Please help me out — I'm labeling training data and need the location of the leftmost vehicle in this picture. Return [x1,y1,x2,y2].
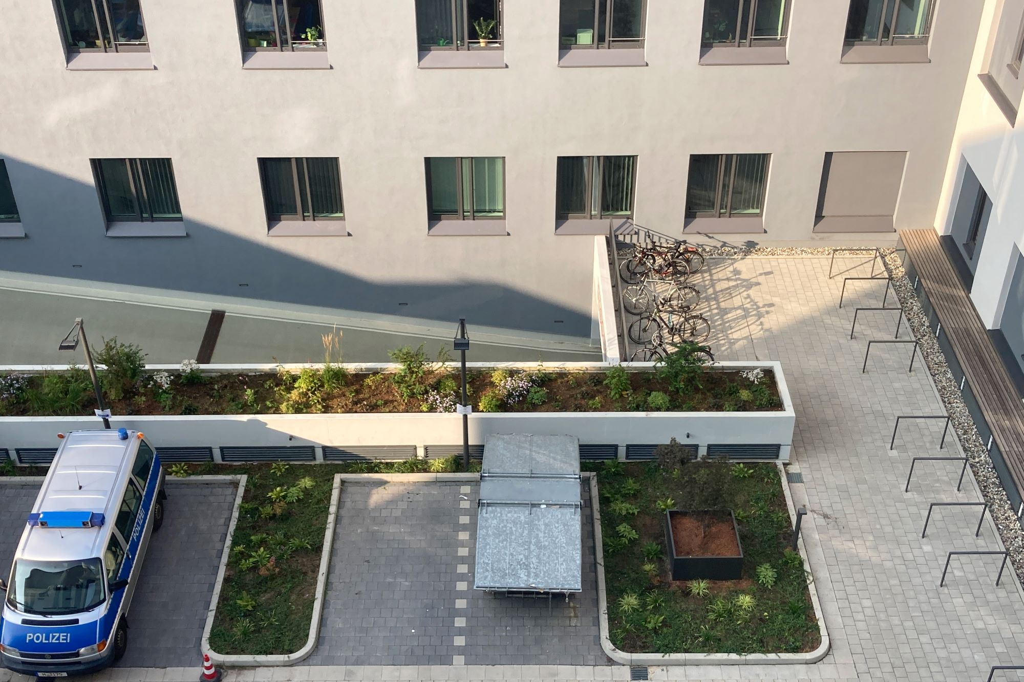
[0,429,170,680]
